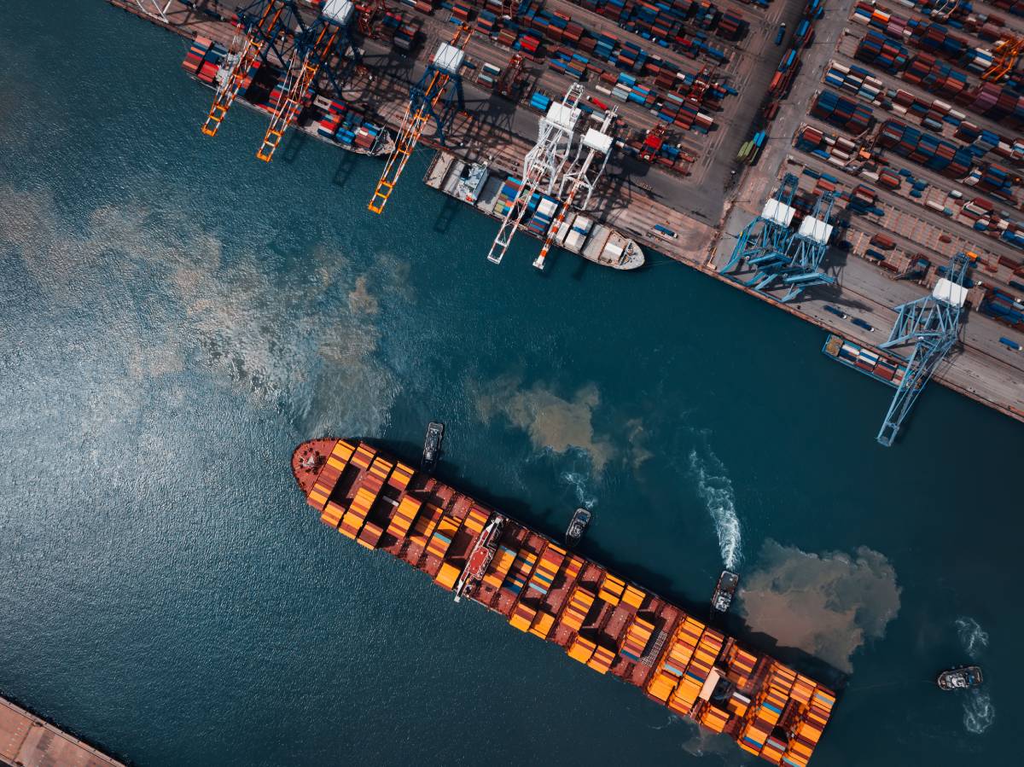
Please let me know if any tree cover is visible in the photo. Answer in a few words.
No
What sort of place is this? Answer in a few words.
port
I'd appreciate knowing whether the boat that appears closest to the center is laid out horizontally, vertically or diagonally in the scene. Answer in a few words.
vertically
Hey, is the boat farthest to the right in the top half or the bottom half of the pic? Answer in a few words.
bottom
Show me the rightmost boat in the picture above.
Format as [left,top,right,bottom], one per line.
[938,666,988,692]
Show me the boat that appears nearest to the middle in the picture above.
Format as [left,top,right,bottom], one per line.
[422,421,442,470]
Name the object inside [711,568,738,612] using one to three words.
boat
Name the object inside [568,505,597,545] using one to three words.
boat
